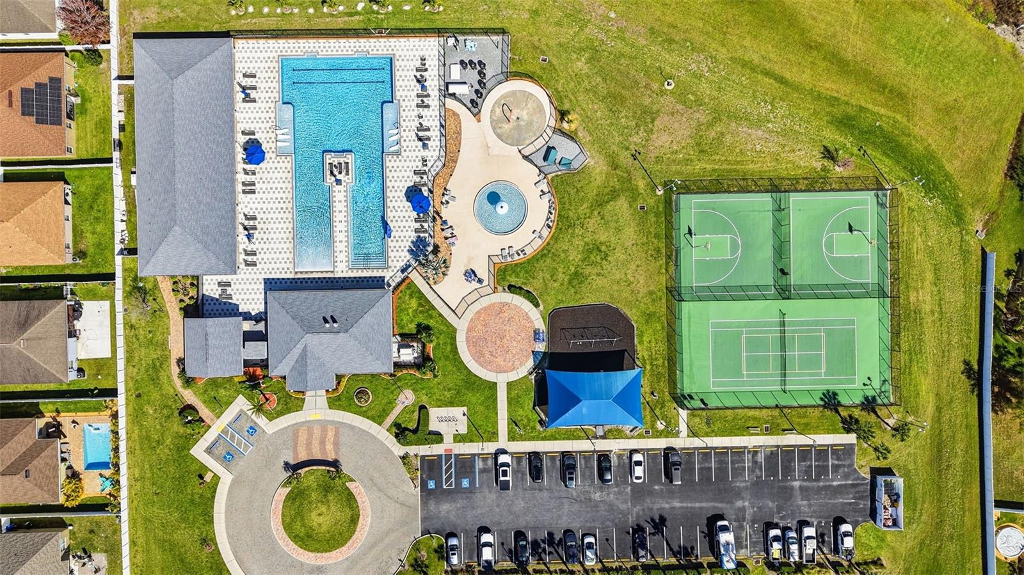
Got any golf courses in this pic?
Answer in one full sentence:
No, there's no golf course here.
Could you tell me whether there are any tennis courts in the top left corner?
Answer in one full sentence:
No, in the top left corner there is no tennis court.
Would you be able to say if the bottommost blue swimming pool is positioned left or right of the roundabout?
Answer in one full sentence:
Looking at the photo, the bottommost blue swimming pool lies to the left of the roundabout.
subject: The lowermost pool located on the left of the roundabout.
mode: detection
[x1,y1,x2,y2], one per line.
[82,421,113,473]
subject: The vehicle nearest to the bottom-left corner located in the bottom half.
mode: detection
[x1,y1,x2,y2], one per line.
[446,536,460,566]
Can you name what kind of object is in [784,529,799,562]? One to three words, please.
car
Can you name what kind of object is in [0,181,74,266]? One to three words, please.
house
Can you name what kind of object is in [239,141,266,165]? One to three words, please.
umbrella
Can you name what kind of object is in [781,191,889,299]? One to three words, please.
basketball court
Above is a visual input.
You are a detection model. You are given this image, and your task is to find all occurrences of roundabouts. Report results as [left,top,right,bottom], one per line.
[214,410,420,575]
